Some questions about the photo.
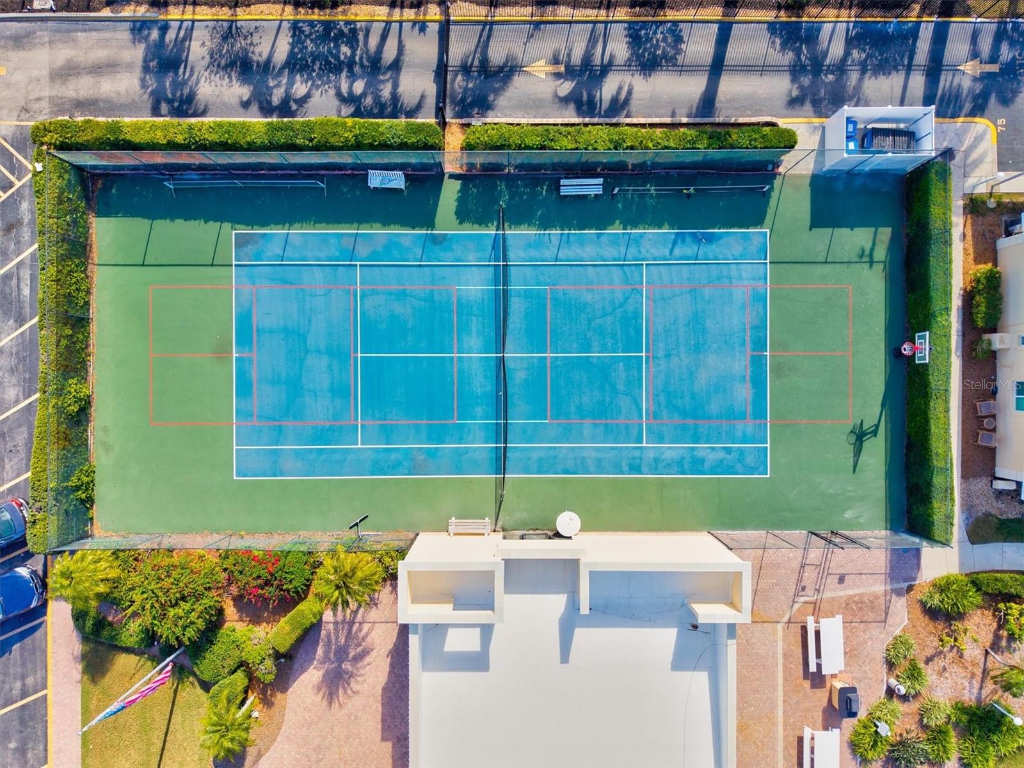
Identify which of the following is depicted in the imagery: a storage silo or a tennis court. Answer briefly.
tennis court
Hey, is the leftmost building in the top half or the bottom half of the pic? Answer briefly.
bottom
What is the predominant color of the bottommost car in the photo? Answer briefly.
blue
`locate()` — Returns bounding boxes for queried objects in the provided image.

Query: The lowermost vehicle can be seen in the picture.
[0,568,52,626]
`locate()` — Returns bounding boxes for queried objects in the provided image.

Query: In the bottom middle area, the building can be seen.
[398,533,751,768]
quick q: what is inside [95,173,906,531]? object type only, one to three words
tennis court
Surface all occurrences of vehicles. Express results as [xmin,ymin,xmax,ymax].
[0,568,52,626]
[0,500,33,550]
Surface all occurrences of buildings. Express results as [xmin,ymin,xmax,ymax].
[398,533,751,768]
[983,234,1024,478]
